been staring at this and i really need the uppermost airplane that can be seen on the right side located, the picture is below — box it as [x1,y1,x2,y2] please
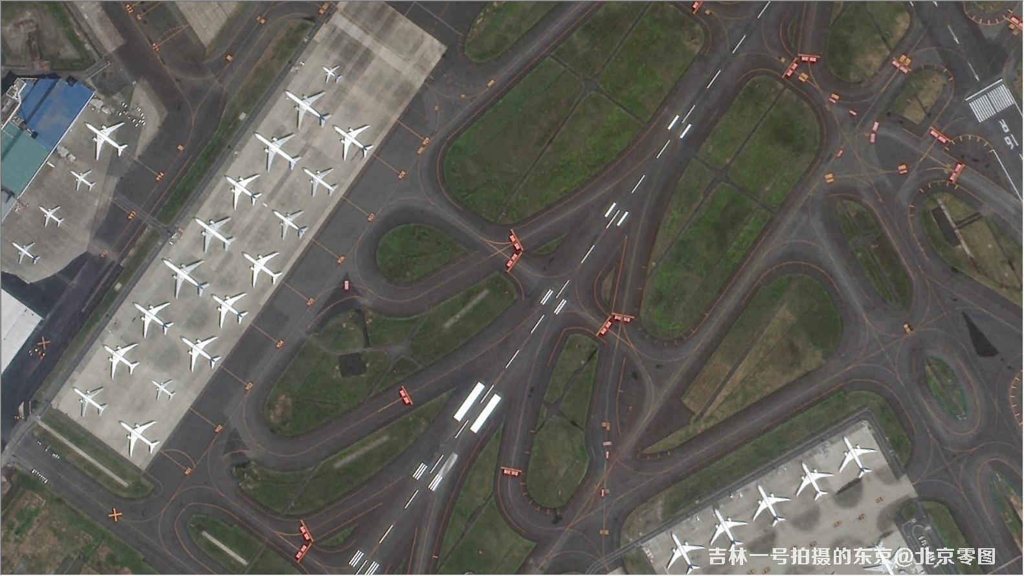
[840,437,877,479]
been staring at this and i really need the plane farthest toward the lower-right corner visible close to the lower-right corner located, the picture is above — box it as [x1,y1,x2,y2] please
[865,537,905,576]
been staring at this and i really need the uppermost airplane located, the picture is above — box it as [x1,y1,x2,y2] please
[322,66,342,82]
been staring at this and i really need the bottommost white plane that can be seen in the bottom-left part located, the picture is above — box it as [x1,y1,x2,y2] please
[120,422,160,456]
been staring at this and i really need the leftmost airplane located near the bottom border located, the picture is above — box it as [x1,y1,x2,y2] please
[668,534,704,576]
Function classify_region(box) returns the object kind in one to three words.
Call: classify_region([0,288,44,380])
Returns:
hangar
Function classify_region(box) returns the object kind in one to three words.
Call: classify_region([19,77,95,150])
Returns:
hangar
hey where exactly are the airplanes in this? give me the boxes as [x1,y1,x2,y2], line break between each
[86,123,127,158]
[225,174,261,208]
[162,259,208,296]
[255,133,301,170]
[120,422,160,456]
[181,337,221,371]
[73,387,107,415]
[303,167,337,195]
[754,486,790,528]
[195,217,235,252]
[285,90,330,128]
[865,537,905,576]
[212,293,248,326]
[39,205,64,226]
[134,303,173,336]
[668,534,704,576]
[103,344,140,377]
[322,66,342,82]
[151,379,176,401]
[333,124,373,160]
[70,170,96,191]
[840,437,877,479]
[13,242,39,263]
[797,463,834,502]
[242,252,282,287]
[273,211,307,238]
[712,510,747,551]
